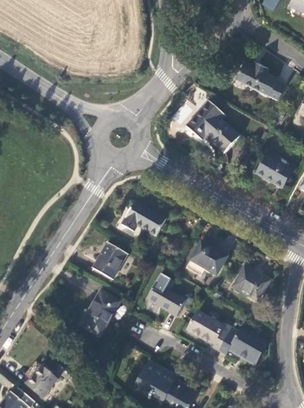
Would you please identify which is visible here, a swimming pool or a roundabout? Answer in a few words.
roundabout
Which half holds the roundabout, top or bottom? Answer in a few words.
top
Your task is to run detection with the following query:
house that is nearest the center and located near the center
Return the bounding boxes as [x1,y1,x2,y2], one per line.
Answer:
[117,200,166,239]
